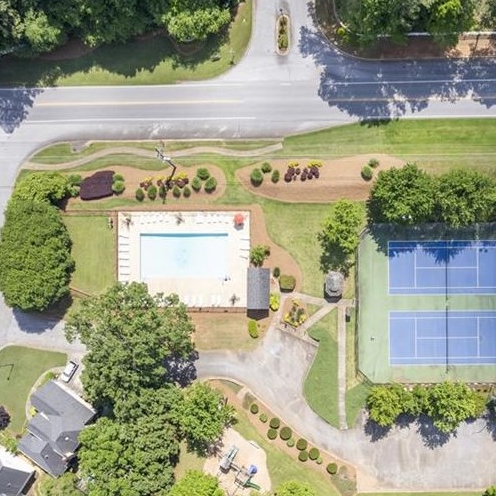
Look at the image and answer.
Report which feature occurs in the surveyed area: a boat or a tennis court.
tennis court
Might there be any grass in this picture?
Yes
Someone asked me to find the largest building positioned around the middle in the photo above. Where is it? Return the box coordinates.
[247,267,268,309]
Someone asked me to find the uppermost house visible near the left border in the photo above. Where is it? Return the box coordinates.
[17,380,101,471]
